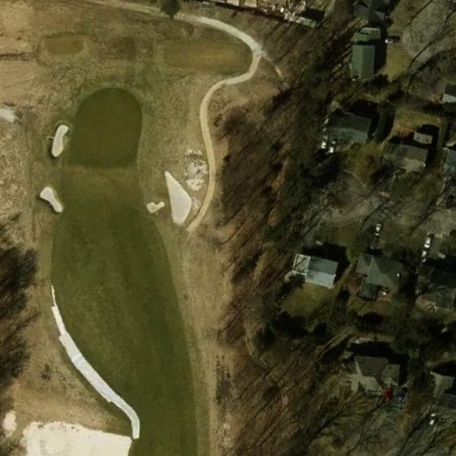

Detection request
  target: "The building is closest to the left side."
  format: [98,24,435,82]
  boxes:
[293,253,339,287]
